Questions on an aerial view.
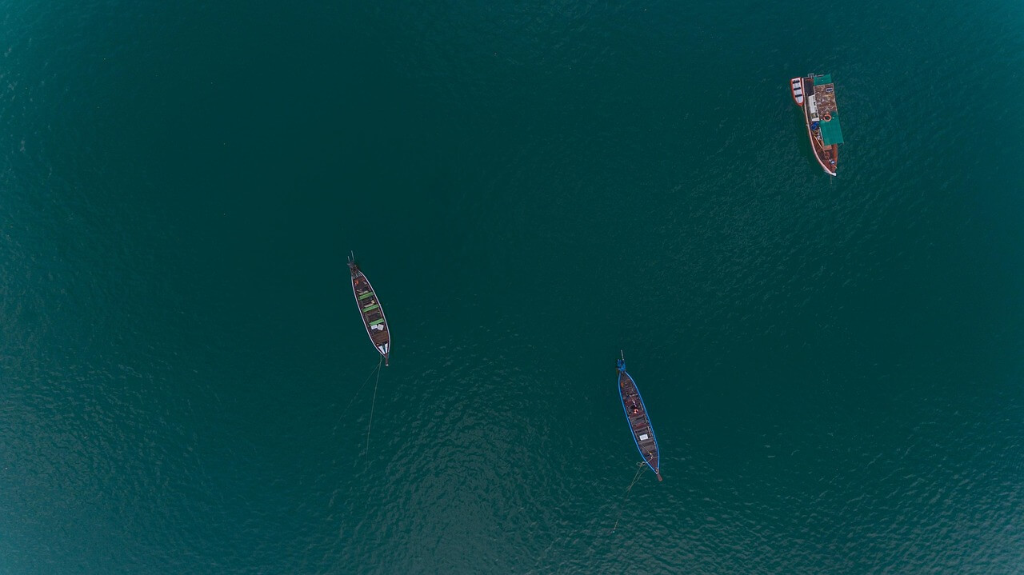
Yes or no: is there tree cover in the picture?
No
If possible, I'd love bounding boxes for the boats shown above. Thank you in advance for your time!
[347,253,390,369]
[801,73,844,177]
[615,349,662,482]
[790,77,804,107]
